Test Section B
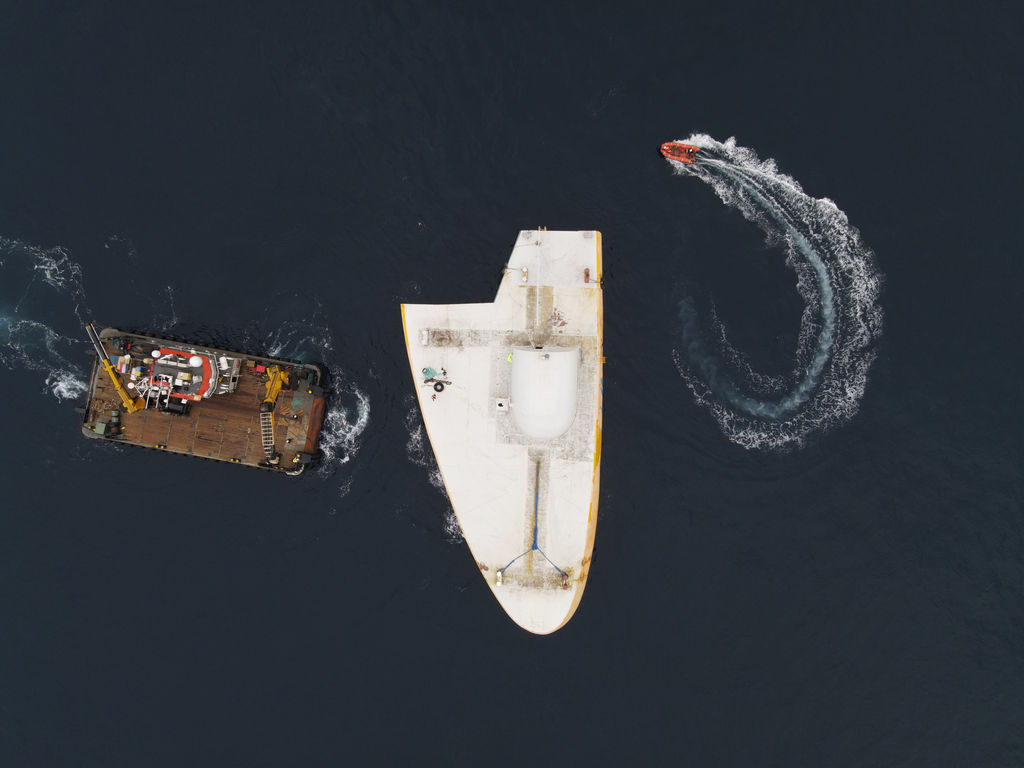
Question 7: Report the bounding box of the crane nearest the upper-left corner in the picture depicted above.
[84,321,147,413]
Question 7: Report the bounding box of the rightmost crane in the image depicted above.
[260,366,292,464]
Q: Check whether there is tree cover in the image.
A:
No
